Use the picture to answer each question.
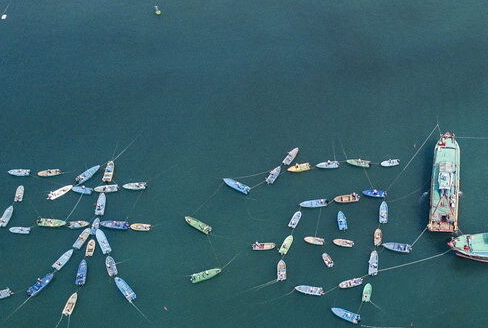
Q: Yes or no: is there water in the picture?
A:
Yes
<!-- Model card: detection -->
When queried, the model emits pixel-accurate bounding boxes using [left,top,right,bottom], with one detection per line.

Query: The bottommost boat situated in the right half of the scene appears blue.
[331,308,361,324]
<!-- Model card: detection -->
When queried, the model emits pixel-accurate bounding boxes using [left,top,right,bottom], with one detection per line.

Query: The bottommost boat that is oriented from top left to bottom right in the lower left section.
[116,277,138,303]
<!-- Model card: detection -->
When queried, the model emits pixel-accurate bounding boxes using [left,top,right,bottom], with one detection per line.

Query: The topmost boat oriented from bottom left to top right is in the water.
[282,147,299,166]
